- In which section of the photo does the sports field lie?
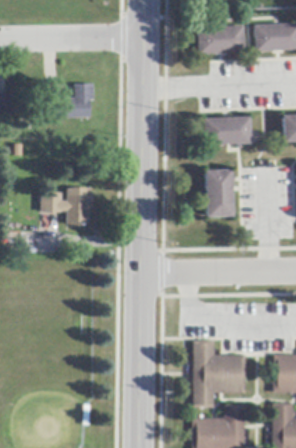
bottom left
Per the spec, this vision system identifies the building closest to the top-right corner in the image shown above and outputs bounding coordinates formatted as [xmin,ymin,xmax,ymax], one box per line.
[254,24,296,52]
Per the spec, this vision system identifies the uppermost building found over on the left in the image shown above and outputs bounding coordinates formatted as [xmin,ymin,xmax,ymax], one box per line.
[68,83,96,120]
